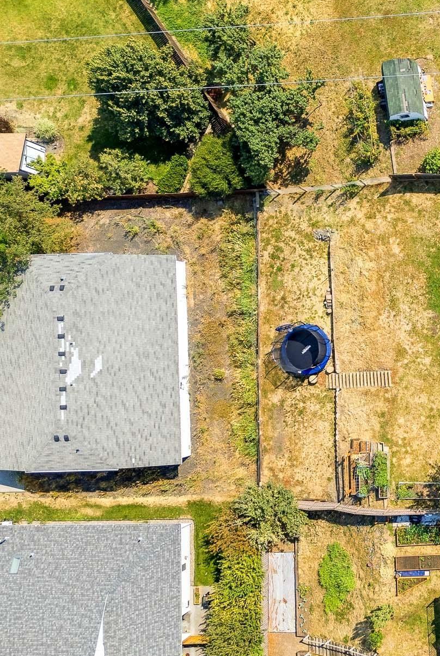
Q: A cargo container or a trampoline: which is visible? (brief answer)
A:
trampoline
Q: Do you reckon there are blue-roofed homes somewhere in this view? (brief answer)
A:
No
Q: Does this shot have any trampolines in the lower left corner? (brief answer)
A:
No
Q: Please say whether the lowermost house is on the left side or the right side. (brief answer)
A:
left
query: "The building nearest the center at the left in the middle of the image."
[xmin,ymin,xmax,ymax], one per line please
[0,250,191,471]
